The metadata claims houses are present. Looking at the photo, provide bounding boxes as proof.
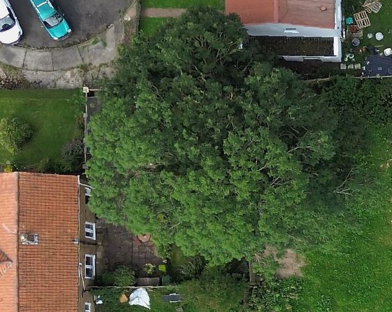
[0,168,97,288]
[224,0,348,64]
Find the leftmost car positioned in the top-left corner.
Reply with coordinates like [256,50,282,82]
[0,0,24,45]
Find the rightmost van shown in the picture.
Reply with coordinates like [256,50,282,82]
[28,0,71,37]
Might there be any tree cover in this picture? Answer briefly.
Yes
